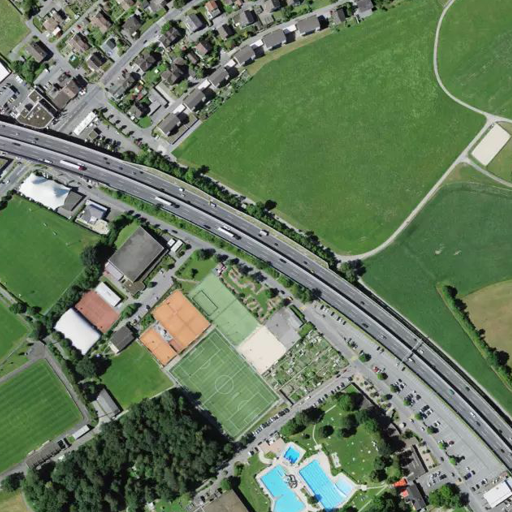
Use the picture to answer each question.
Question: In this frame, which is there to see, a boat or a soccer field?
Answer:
soccer field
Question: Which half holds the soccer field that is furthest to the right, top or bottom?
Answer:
bottom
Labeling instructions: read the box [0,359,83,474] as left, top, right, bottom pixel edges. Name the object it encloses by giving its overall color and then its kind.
green soccer field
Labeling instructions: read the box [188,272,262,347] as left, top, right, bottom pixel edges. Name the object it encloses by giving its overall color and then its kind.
green sports court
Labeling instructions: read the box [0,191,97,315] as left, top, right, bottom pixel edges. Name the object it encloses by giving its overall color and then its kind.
green soccer field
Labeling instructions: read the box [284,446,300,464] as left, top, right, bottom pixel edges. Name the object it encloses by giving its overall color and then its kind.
blue swimming pool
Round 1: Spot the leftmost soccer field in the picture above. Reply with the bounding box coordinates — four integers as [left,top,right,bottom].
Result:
[0,300,29,360]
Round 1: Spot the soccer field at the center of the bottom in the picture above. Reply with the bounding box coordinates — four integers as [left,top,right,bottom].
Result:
[170,330,280,440]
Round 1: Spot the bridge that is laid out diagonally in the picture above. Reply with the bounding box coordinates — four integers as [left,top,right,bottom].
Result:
[0,138,512,474]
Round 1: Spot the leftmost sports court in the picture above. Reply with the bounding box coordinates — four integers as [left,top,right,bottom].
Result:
[75,290,120,332]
